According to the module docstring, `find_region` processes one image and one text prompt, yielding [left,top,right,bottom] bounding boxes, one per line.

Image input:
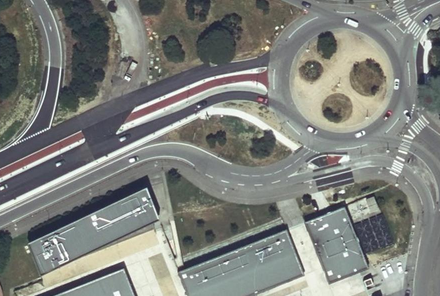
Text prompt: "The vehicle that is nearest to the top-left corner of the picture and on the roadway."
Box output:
[125,62,137,80]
